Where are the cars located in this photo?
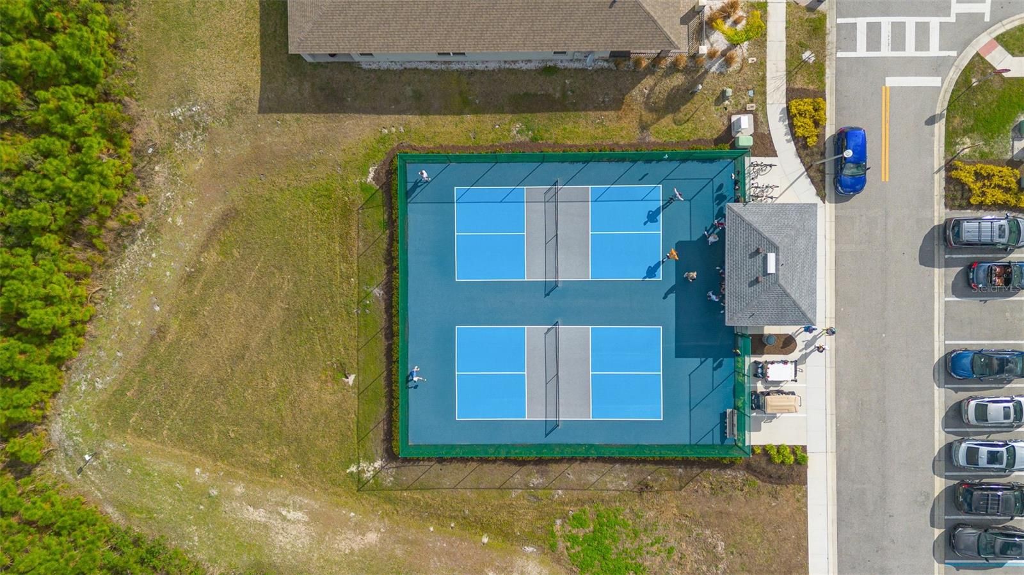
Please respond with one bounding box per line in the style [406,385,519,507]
[964,259,1024,295]
[951,481,1024,520]
[949,438,1024,475]
[831,125,871,196]
[948,524,1024,564]
[940,213,1024,251]
[959,394,1024,430]
[945,347,1024,383]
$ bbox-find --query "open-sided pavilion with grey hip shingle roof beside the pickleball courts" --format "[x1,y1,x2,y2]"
[721,203,818,326]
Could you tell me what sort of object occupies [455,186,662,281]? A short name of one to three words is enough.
sports court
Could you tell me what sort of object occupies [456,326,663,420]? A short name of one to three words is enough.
sports court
